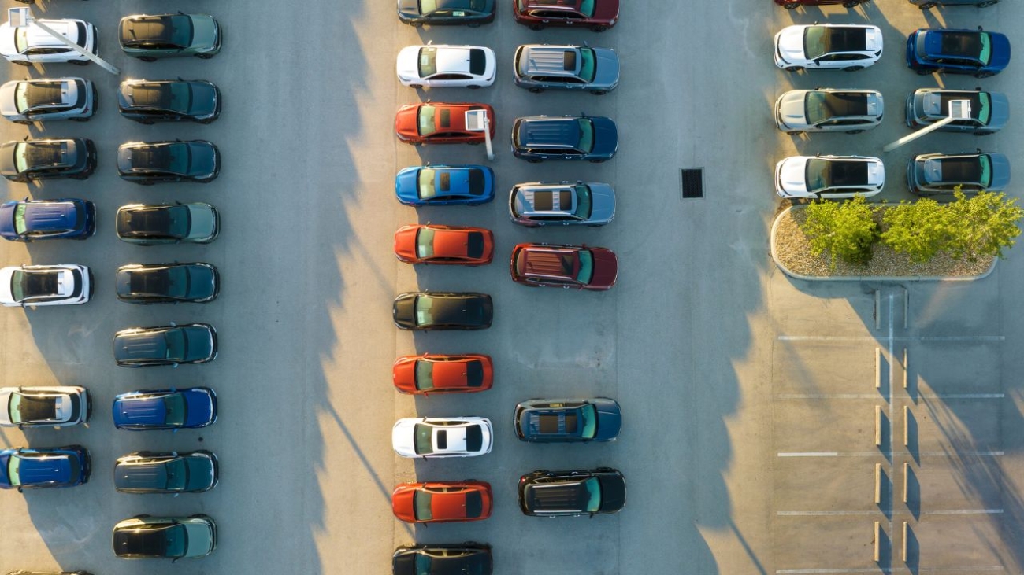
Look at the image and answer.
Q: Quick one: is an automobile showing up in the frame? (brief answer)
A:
Yes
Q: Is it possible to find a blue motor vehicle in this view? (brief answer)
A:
Yes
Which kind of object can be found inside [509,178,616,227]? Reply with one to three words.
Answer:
car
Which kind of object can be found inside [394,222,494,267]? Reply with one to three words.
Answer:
car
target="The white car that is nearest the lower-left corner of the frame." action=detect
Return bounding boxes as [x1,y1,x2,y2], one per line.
[393,417,494,462]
